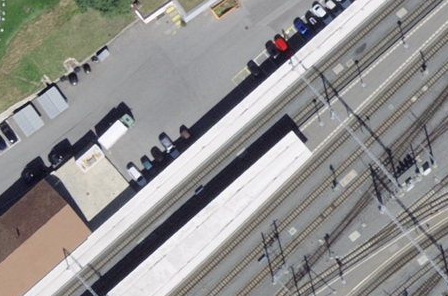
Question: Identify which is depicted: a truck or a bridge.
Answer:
truck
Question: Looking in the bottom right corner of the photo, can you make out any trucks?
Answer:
No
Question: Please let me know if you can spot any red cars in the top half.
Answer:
Yes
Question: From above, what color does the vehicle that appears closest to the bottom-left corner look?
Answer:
black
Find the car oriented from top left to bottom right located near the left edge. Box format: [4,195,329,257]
[0,122,19,145]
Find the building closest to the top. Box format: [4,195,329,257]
[38,86,68,118]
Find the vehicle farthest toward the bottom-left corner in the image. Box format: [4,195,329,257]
[20,158,44,180]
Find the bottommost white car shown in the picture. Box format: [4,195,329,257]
[126,163,146,186]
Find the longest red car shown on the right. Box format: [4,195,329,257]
[272,35,292,58]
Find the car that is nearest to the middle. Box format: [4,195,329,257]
[178,126,194,144]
